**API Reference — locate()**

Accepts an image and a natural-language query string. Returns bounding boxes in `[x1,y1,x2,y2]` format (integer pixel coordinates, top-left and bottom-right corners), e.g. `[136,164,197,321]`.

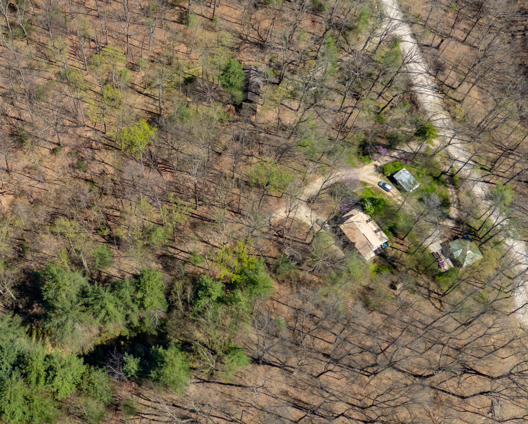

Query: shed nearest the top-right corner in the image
[390,167,420,194]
